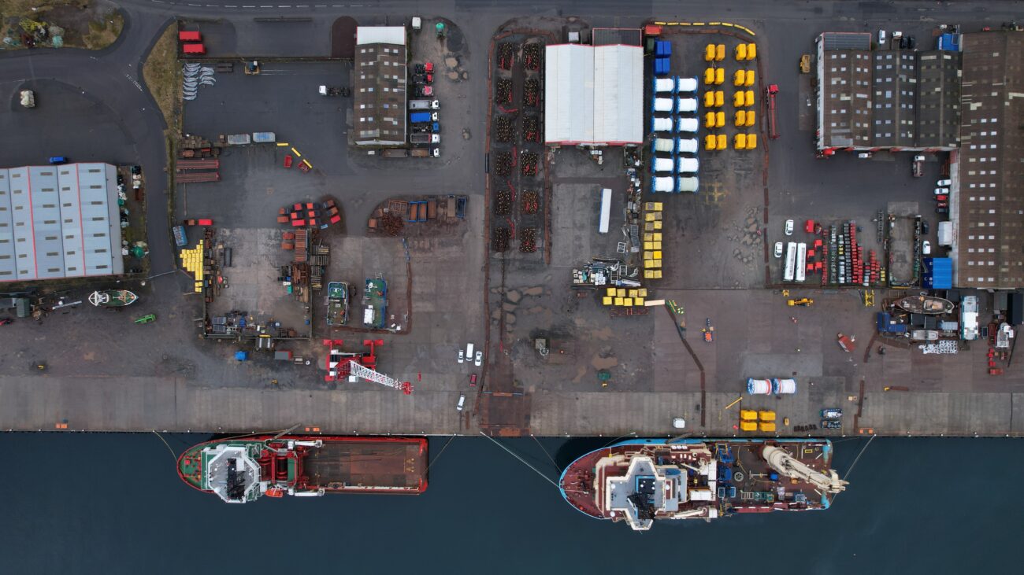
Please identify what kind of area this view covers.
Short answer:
port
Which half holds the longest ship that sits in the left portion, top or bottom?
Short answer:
bottom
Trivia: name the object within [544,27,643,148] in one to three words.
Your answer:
shed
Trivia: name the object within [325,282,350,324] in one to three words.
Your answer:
ship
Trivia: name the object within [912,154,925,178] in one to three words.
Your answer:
vehicle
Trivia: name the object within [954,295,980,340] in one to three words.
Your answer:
boat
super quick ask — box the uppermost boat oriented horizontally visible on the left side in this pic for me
[88,289,138,307]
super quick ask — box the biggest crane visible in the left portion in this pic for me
[324,339,411,395]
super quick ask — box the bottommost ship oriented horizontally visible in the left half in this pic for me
[177,435,429,503]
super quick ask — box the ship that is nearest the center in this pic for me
[361,274,387,326]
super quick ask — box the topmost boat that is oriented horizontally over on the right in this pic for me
[897,296,956,314]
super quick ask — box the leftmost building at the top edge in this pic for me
[355,25,408,149]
